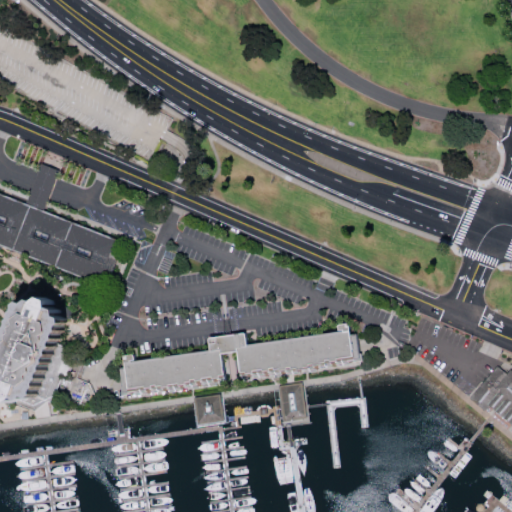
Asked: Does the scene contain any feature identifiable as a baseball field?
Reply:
No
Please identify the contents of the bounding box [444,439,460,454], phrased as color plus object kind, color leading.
white boat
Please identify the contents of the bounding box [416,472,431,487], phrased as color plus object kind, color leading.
white boat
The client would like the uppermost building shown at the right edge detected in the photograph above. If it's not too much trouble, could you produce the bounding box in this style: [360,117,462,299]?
[470,366,512,436]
